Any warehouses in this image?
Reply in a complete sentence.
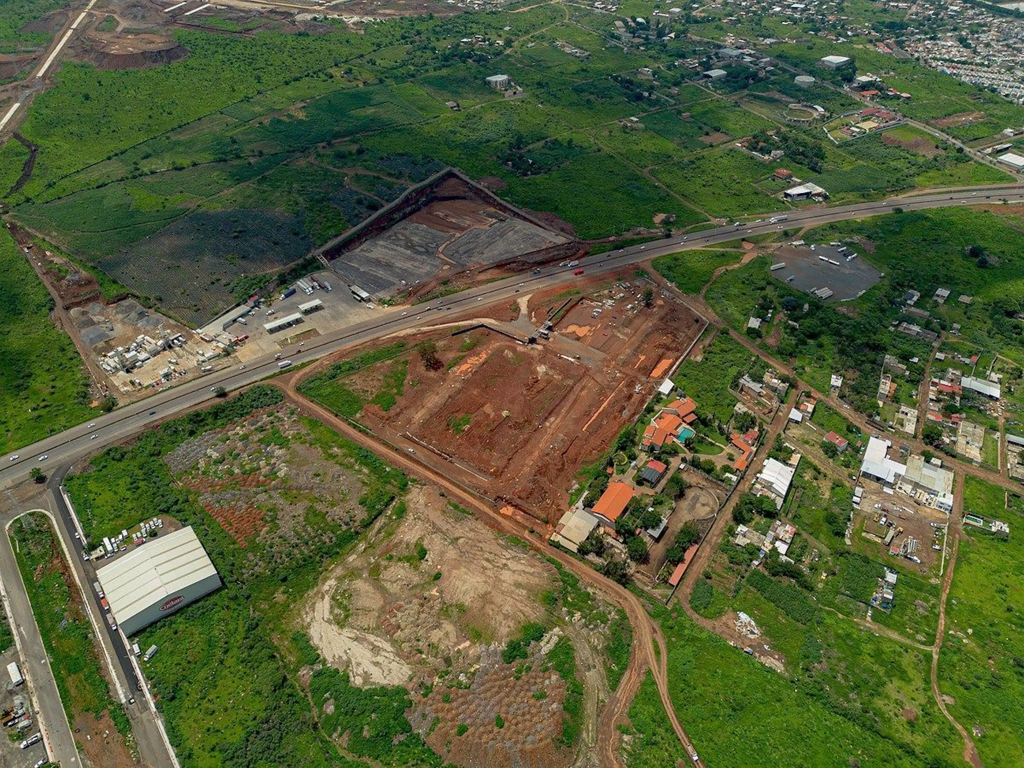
Yes, I can see a warehouse in this picture.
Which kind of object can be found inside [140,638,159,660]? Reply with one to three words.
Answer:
vehicle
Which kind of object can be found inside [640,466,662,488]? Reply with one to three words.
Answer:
house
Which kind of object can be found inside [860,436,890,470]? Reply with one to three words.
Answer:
building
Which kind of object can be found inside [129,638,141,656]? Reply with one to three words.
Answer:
vehicle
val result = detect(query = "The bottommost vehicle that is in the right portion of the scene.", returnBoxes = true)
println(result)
[683,740,704,765]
